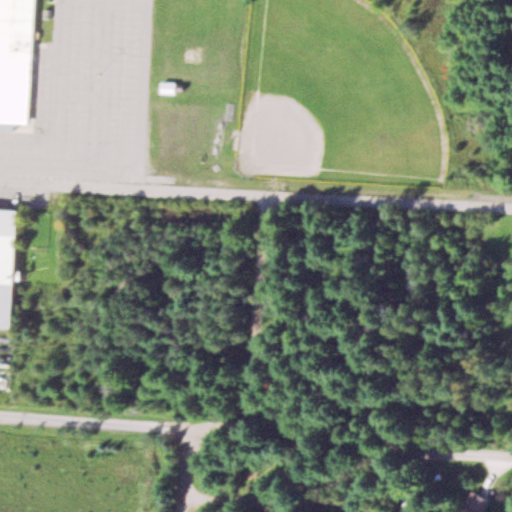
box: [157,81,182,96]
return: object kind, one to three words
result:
shed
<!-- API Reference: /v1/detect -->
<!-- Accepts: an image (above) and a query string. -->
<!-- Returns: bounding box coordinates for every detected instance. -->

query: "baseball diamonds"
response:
[238,0,446,184]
